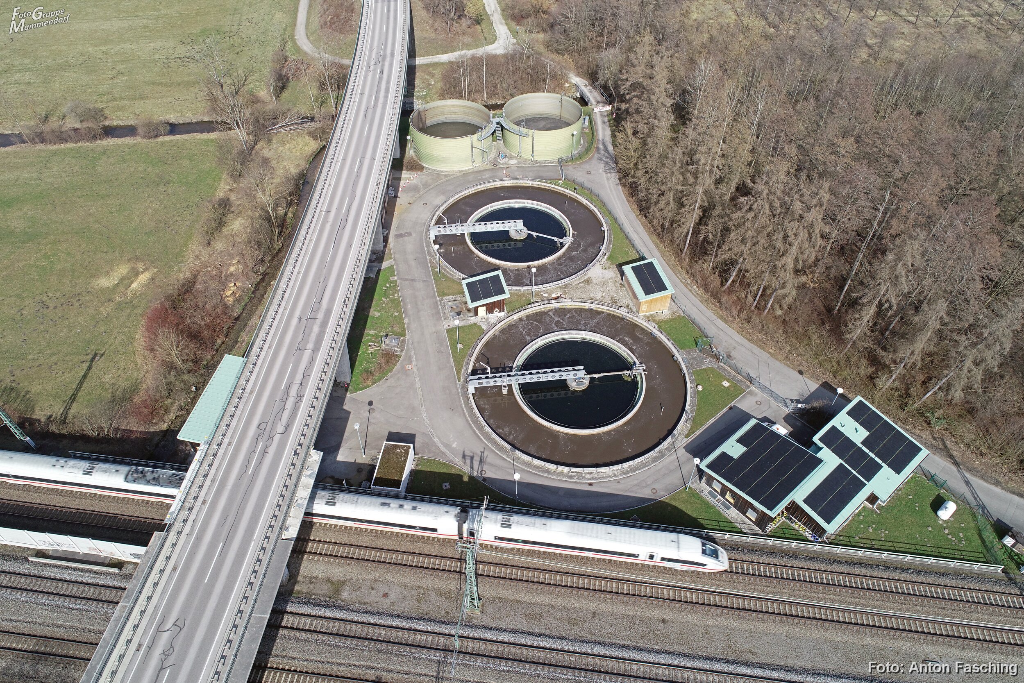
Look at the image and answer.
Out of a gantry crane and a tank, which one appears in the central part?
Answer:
tank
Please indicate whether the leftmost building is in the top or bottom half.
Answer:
bottom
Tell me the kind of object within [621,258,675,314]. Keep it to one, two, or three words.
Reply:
shed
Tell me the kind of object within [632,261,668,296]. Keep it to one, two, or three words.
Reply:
solar array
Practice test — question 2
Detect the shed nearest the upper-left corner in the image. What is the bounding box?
[462,270,510,317]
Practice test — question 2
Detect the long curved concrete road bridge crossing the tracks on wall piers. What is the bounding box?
[80,0,410,683]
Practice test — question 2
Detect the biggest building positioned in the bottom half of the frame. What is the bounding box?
[691,395,930,546]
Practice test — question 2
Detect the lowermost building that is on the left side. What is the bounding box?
[371,442,414,498]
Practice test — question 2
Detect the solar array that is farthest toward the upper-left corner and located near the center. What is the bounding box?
[466,274,505,303]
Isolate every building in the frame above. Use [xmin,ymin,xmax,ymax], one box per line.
[621,258,675,314]
[371,442,414,498]
[462,270,510,317]
[691,395,930,546]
